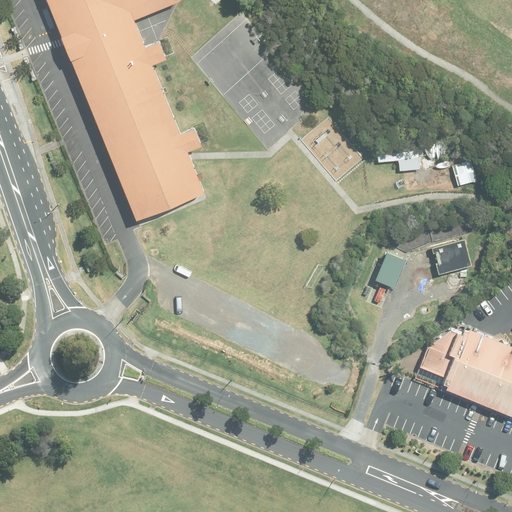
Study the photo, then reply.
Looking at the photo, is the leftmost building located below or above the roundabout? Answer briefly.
above it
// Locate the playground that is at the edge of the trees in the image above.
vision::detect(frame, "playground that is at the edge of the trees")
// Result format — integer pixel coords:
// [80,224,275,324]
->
[302,118,362,181]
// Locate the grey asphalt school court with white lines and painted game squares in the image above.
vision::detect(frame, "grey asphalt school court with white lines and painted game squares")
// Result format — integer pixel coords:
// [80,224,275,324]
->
[191,12,304,150]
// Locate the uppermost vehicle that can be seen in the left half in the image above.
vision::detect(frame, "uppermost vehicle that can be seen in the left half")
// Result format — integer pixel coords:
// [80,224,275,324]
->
[174,265,191,278]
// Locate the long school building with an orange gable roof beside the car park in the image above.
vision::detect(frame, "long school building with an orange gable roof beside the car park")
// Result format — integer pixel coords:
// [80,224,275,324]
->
[46,0,204,222]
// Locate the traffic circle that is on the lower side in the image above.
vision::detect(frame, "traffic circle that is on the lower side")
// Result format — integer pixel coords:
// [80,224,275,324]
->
[50,328,106,384]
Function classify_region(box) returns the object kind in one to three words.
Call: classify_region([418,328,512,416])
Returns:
building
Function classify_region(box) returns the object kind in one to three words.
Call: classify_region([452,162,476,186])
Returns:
shed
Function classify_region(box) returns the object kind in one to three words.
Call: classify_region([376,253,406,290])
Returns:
shed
